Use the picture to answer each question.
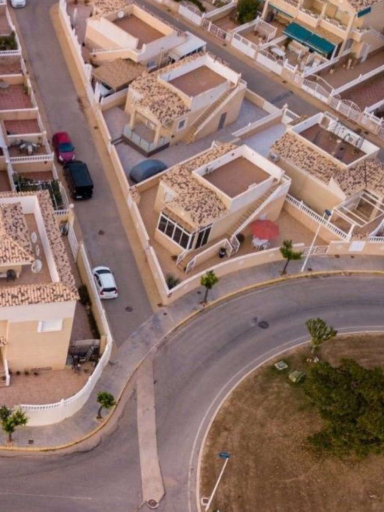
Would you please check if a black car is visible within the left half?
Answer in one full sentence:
Yes, a black car shows up within the left half.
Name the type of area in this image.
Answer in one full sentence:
The area seen from above is a residential area.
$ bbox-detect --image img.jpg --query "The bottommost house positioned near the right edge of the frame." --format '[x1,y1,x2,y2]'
[269,112,384,218]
